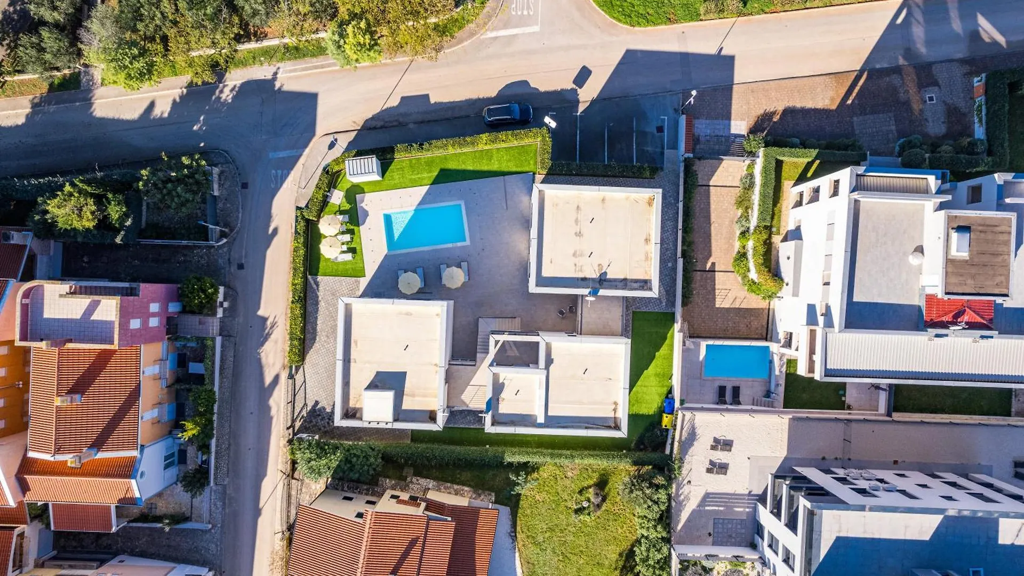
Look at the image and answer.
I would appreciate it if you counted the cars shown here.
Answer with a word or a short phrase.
one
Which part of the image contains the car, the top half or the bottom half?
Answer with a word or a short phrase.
top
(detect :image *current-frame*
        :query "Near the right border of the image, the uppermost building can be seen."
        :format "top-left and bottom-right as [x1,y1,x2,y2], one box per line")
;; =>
[777,167,1024,388]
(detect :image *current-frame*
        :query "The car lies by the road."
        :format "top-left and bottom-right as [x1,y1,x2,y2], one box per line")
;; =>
[483,101,534,127]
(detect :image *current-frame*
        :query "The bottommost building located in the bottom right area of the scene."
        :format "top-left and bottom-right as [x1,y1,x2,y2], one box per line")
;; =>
[750,466,1024,576]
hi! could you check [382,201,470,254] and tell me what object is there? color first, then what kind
blue swimming pool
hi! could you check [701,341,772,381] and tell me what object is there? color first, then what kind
blue swimming pool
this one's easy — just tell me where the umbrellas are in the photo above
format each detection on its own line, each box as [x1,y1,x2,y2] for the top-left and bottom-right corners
[321,236,345,259]
[442,265,465,289]
[320,213,343,237]
[398,271,421,295]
